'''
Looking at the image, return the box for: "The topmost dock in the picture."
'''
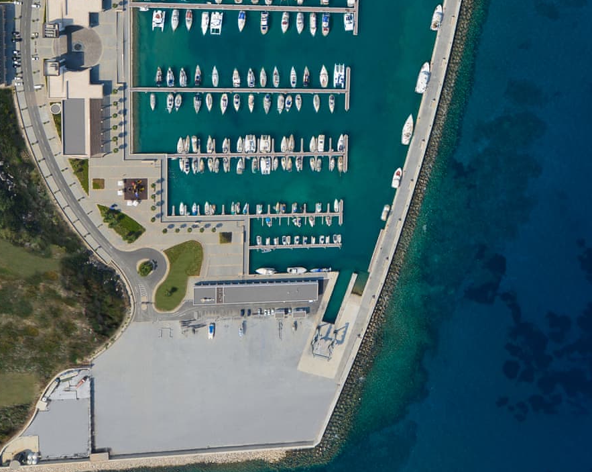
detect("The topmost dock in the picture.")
[132,0,358,35]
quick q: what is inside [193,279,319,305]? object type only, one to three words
building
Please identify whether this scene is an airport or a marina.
marina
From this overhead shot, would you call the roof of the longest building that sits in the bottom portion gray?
Yes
